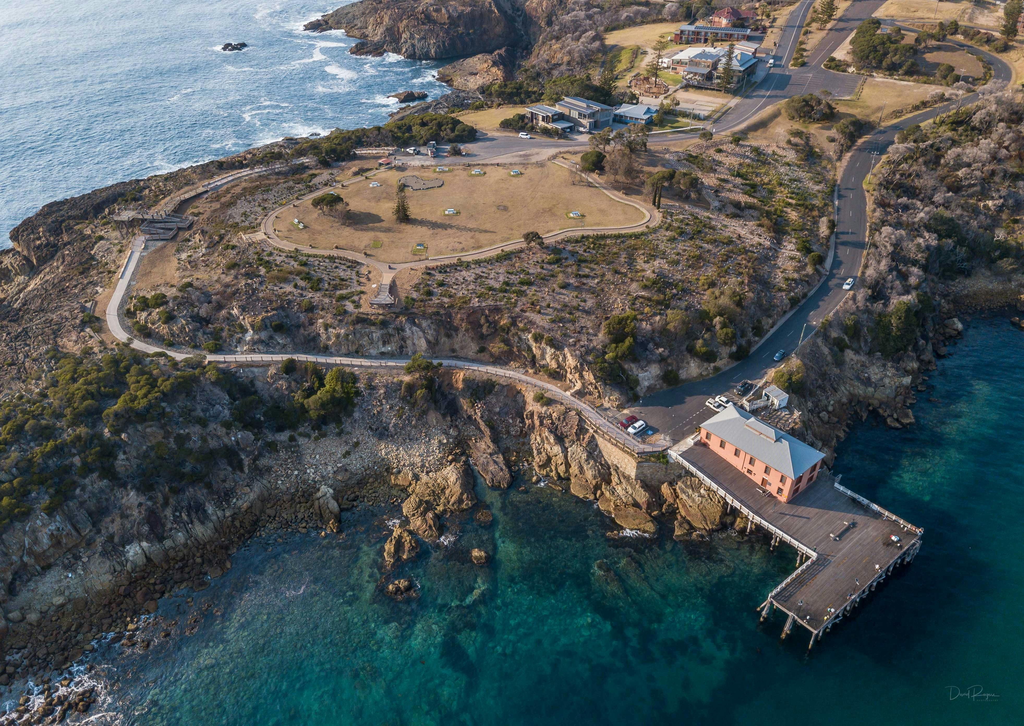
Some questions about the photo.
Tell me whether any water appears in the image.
Yes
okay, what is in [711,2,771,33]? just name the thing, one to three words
house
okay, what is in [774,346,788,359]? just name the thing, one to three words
vehicle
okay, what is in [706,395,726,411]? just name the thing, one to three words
vehicle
